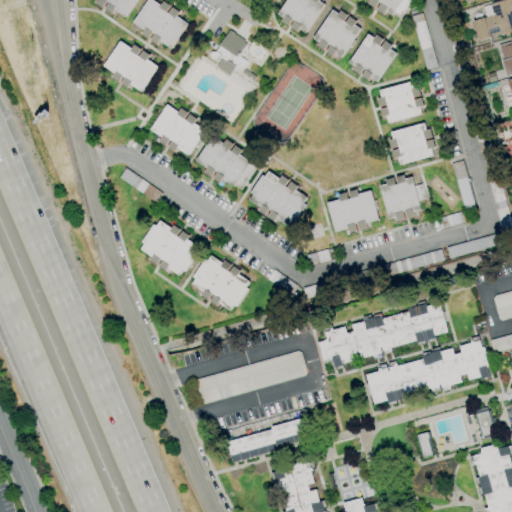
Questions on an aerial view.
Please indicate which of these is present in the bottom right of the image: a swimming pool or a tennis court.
swimming pool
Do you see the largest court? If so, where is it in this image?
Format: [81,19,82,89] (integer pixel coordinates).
[252,64,326,142]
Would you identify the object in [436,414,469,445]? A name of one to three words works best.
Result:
swimming pool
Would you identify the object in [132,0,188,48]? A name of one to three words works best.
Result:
building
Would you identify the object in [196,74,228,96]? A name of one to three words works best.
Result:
swimming pool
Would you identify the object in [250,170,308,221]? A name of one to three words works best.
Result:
building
